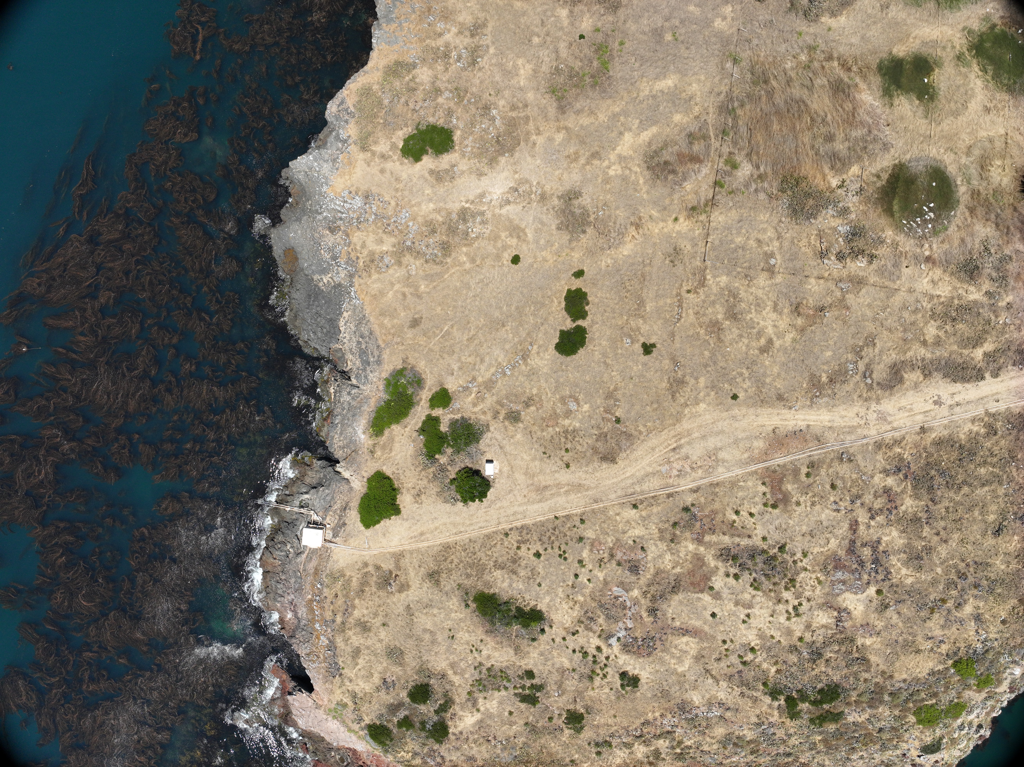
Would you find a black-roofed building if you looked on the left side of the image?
No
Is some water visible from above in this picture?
Yes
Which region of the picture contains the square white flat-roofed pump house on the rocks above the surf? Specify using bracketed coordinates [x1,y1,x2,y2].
[301,524,325,548]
